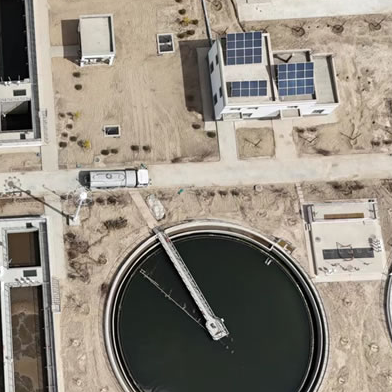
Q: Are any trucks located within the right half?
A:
No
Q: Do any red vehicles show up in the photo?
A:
No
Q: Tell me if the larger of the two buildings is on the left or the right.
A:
right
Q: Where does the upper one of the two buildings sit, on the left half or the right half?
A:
left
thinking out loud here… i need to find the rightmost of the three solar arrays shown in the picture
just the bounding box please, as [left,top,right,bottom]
[277,65,316,96]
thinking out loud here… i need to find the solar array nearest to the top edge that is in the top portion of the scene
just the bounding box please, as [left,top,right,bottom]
[225,33,264,65]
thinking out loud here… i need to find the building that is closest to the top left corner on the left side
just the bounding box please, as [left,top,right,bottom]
[77,14,116,66]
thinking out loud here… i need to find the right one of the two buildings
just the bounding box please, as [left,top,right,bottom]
[208,33,344,126]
